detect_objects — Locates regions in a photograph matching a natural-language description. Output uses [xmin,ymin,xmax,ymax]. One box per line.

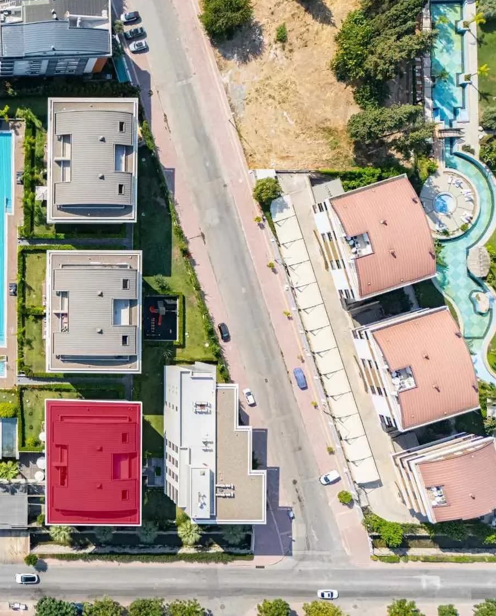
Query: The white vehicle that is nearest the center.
[243,388,256,407]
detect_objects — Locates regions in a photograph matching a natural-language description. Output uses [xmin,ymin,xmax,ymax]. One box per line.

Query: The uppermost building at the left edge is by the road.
[0,0,111,78]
